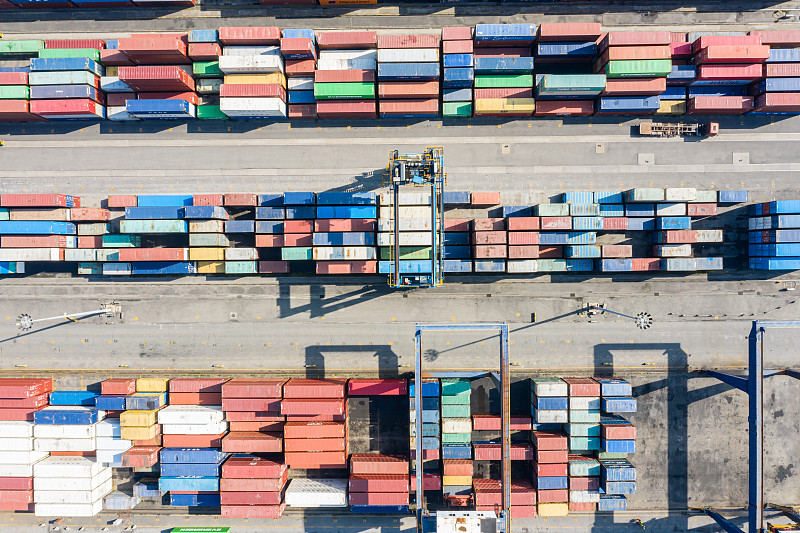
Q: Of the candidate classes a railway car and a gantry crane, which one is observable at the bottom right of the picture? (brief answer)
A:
gantry crane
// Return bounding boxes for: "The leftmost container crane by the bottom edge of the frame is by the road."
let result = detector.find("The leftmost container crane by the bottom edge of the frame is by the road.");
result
[403,327,510,533]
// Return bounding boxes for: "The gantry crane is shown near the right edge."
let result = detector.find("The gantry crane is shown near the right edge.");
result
[694,326,800,533]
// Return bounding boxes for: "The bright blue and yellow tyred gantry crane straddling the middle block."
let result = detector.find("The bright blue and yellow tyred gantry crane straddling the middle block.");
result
[380,142,449,291]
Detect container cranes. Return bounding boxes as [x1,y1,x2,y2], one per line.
[380,142,449,291]
[694,326,800,533]
[403,327,510,533]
